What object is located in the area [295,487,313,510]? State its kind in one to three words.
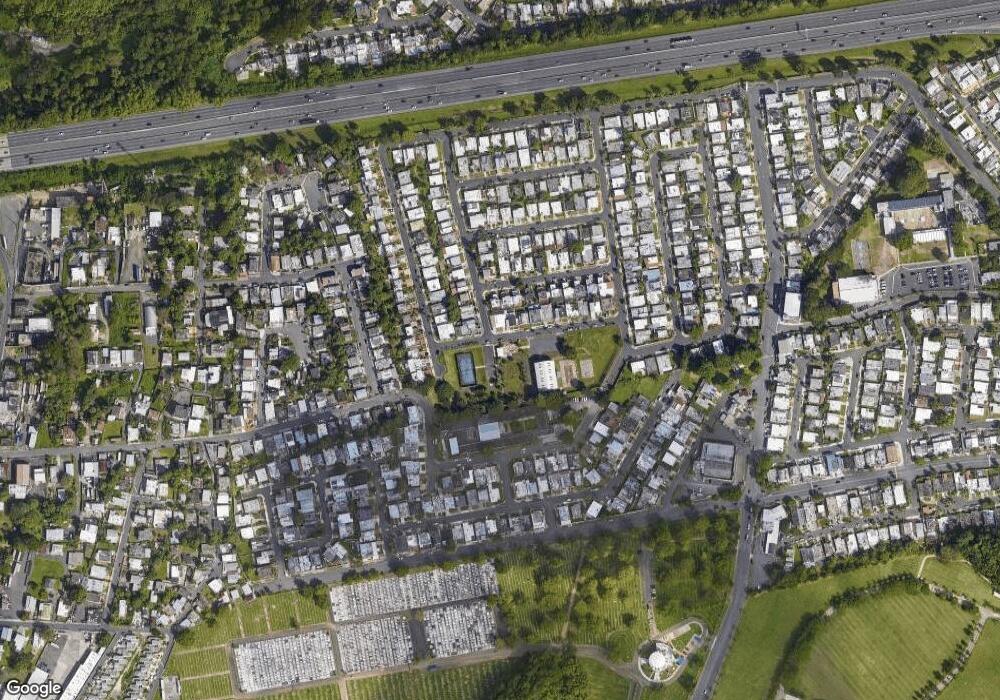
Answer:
house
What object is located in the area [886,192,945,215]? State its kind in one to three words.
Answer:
building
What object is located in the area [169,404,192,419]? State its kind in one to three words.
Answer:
house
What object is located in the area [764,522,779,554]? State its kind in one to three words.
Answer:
building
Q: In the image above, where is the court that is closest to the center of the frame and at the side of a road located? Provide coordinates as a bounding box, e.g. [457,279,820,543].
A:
[455,351,477,387]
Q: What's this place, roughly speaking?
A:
residential area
